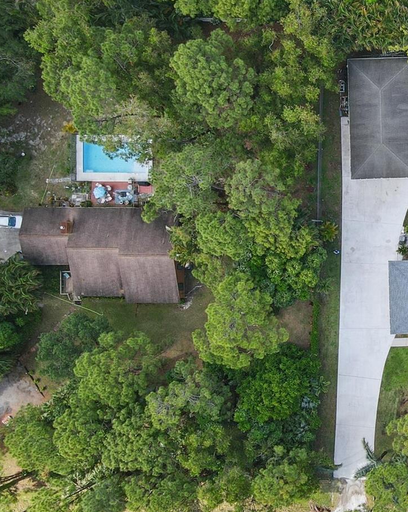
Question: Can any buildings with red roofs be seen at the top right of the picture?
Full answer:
No, no building with a red roof appears at the top right of the picture.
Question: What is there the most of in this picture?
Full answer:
Most of the picture is covered by trees.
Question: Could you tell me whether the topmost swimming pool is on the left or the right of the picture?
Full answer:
It is on the left.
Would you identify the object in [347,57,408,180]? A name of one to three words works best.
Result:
building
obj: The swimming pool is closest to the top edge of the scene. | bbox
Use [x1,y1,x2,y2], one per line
[81,140,150,174]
